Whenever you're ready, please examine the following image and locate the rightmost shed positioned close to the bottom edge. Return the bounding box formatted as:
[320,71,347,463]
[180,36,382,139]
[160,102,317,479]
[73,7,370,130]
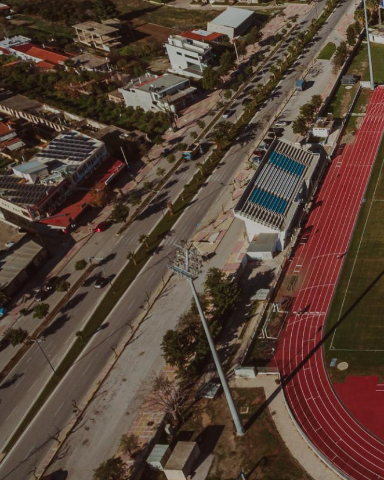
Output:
[162,441,200,480]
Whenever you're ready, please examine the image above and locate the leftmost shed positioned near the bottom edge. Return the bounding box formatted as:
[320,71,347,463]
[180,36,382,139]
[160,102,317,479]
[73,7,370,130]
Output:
[143,444,171,472]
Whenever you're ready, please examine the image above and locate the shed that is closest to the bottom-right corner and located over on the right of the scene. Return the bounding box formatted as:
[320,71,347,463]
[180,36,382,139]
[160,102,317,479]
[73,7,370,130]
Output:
[232,360,257,376]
